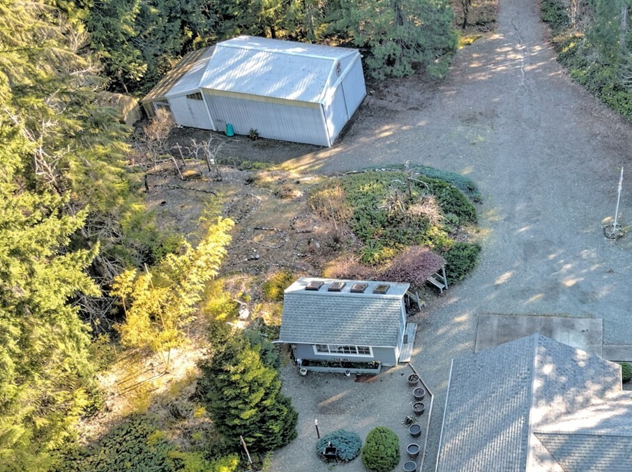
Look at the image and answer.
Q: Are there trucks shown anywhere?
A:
No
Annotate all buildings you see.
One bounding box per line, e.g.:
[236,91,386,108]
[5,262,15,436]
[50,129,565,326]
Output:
[433,334,632,472]
[92,89,149,136]
[153,39,370,146]
[272,277,409,370]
